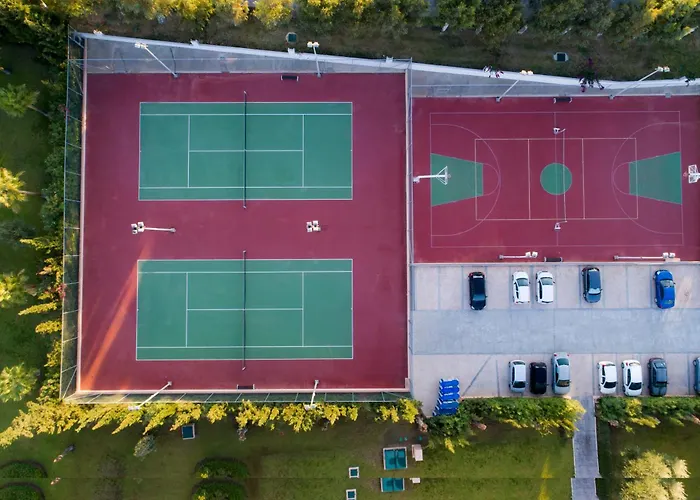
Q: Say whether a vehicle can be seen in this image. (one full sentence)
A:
Yes, the picture does show a vehicle.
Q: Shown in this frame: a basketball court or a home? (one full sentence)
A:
The image shows a basketball court.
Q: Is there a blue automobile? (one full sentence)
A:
Yes, I can see a blue automobile in this picture.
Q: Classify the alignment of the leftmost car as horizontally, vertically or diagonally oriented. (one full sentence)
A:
I'd say the leftmost car is aligned vertically in the picture.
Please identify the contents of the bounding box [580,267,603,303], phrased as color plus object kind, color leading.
blue car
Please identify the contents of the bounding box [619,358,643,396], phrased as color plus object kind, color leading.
white car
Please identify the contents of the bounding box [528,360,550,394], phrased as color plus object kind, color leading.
black car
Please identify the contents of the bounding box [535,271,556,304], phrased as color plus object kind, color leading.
white car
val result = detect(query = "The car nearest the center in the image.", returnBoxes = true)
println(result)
[468,272,487,310]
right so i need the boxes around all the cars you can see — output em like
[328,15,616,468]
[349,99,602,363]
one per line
[550,351,572,394]
[580,267,603,303]
[595,360,617,393]
[645,357,669,395]
[690,356,700,393]
[528,360,550,394]
[651,270,675,310]
[508,359,528,393]
[619,358,643,396]
[535,271,556,304]
[468,272,487,310]
[511,272,530,304]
